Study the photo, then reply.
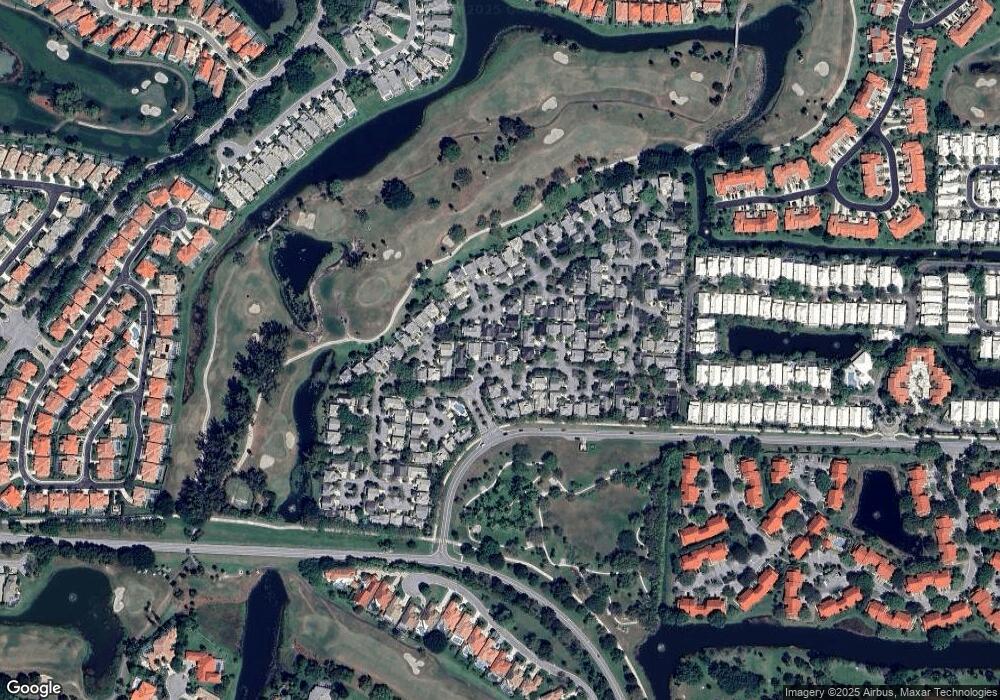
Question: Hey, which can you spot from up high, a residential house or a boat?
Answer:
residential house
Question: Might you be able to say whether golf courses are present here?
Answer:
Yes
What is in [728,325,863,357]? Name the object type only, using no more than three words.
pond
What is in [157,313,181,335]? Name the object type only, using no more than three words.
house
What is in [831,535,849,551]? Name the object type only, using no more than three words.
swimming pool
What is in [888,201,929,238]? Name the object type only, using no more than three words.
building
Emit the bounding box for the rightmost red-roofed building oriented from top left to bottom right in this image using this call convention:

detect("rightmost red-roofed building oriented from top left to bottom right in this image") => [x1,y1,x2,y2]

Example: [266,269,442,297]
[971,584,1000,633]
